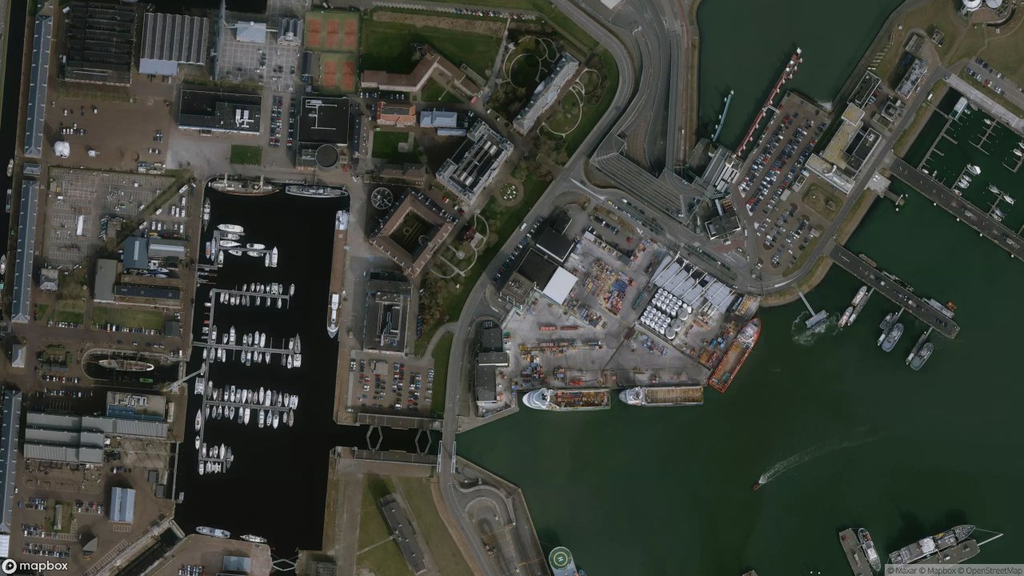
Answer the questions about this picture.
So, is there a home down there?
Yes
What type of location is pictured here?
port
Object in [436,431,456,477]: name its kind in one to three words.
bridge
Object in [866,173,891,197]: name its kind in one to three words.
pier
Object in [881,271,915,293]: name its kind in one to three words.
ship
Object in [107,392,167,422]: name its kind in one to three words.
building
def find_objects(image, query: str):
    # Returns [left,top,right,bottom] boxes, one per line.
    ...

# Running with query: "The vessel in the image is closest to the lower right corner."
[888,525,975,569]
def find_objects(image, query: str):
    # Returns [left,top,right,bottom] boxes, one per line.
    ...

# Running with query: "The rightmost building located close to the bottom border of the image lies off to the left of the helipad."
[382,494,426,574]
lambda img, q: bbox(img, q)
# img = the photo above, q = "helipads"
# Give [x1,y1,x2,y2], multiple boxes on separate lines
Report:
[548,548,572,571]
